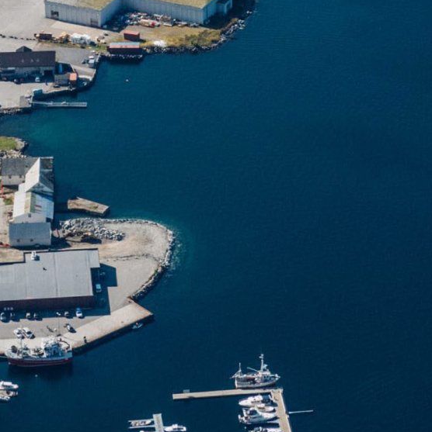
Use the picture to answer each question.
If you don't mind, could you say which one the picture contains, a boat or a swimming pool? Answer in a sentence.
I can see a boat in this picture.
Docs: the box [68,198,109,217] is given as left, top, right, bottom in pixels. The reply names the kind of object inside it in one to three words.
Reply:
pier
